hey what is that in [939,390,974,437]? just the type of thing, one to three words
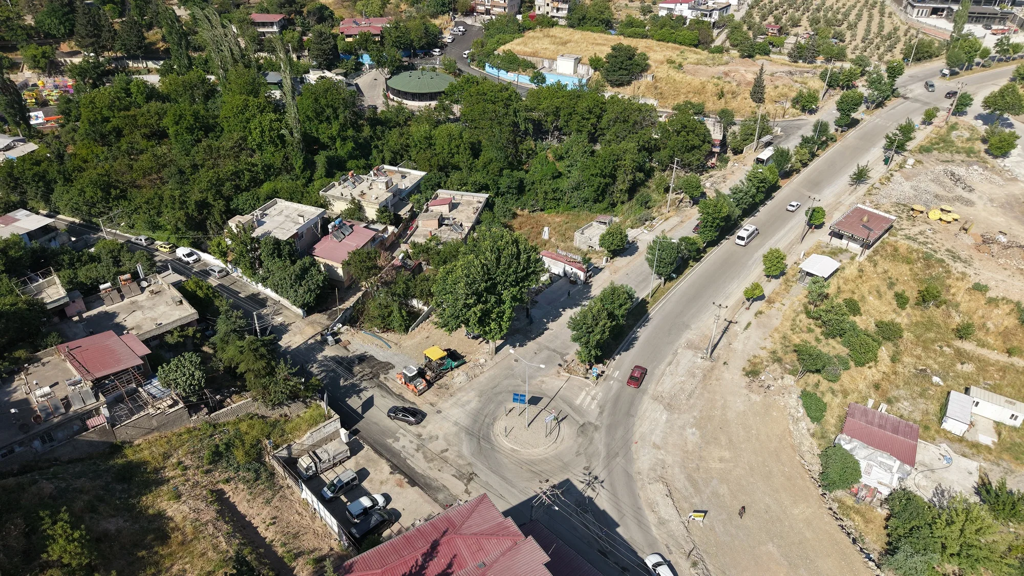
shed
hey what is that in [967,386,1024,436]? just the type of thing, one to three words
building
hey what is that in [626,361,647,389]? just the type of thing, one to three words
car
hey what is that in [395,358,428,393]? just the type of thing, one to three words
work vehicle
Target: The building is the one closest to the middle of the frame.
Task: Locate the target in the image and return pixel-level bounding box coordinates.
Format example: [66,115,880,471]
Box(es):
[540,249,588,289]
